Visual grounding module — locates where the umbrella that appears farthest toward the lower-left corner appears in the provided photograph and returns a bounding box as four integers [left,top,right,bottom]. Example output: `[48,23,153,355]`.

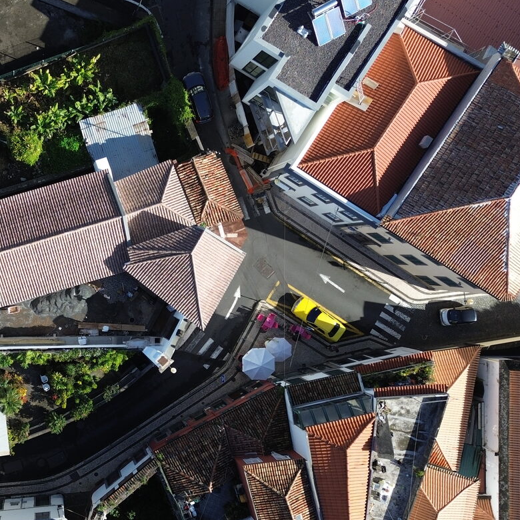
[241,346,273,378]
